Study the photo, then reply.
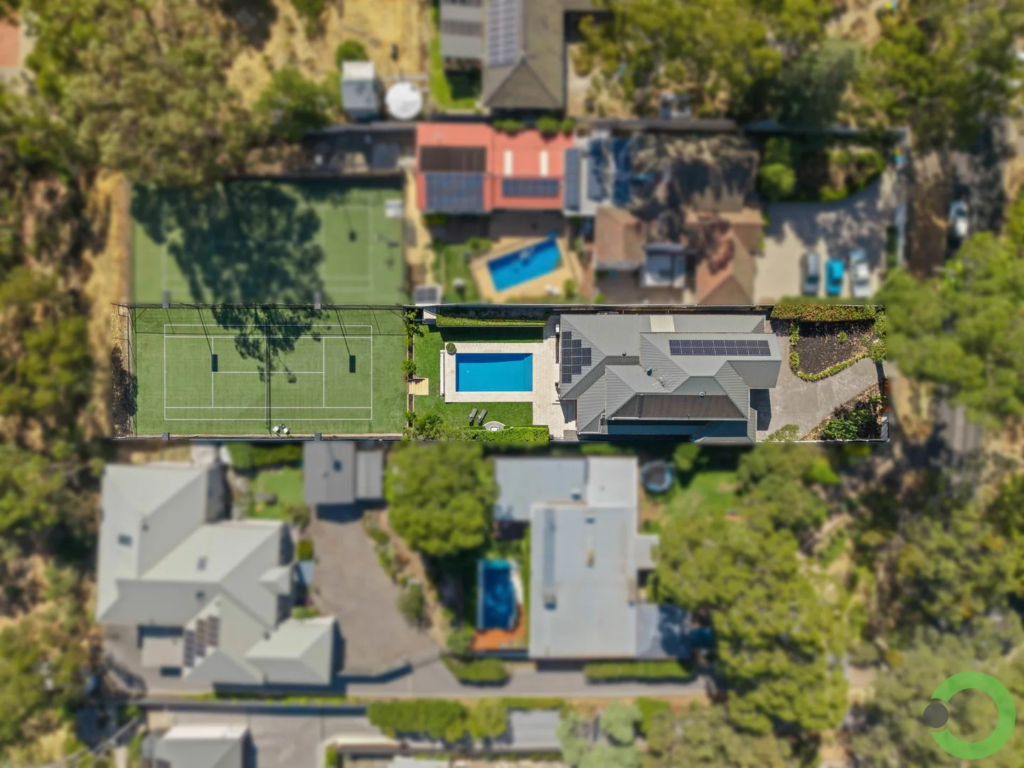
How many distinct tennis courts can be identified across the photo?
2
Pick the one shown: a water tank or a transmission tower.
water tank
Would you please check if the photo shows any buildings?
Yes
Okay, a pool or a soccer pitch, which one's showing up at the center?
pool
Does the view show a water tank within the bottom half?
No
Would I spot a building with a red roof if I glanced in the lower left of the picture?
No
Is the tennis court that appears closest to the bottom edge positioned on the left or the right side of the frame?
left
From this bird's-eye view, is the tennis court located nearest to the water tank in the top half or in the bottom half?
top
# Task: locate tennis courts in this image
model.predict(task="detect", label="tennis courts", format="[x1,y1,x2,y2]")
[136,308,406,435]
[132,179,404,305]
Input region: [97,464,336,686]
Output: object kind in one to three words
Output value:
house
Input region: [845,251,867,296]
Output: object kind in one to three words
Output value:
car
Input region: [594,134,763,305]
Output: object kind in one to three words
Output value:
house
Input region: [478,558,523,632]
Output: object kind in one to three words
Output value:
swimming pool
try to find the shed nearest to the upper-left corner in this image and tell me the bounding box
[343,61,377,116]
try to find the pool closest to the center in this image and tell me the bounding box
[453,350,536,395]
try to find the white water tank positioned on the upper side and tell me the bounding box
[386,82,426,126]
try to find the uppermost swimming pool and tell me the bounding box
[484,234,565,295]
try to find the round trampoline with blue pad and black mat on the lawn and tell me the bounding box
[641,462,674,492]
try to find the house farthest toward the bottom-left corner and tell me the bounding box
[156,720,252,768]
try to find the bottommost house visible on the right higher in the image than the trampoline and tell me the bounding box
[555,314,782,445]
